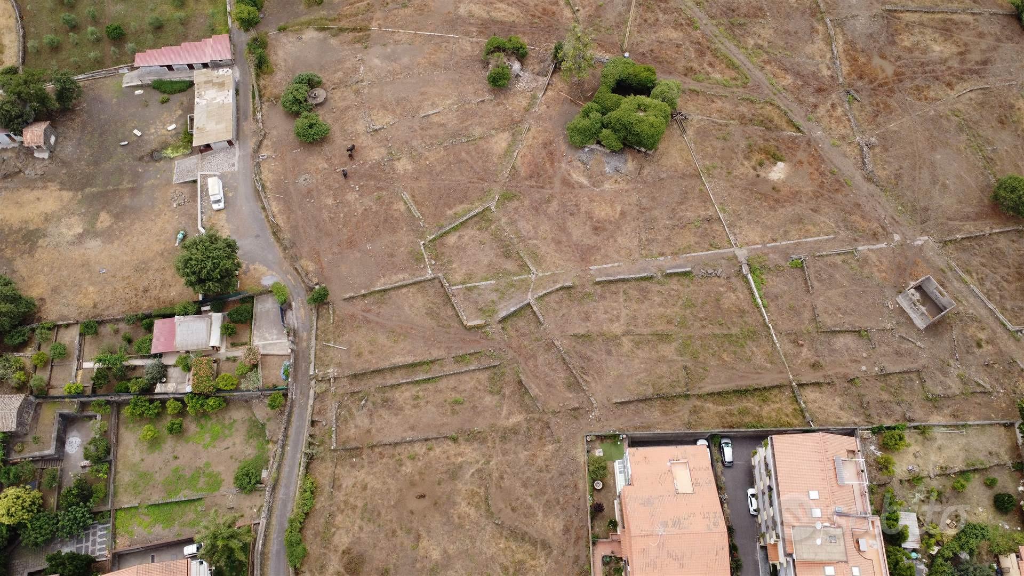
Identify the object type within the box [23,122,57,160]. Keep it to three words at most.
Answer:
shed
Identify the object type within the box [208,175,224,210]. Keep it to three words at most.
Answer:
vehicle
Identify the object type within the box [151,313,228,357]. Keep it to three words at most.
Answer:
house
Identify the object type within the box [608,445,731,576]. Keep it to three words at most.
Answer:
house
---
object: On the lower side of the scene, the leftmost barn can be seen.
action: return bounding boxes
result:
[0,394,37,436]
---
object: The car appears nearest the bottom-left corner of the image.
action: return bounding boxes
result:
[178,542,199,557]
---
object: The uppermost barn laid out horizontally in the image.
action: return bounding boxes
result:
[134,34,234,73]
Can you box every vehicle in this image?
[744,488,756,517]
[178,542,199,557]
[208,175,224,210]
[718,439,735,467]
[696,439,713,464]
